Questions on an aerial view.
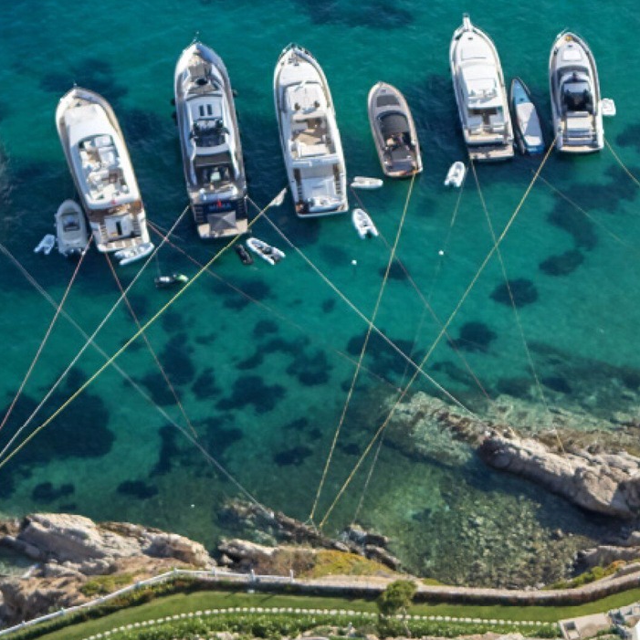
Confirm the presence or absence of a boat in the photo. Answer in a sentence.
Yes, a boat can be made out from above.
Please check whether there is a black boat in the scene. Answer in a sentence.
Yes, the frame does contain a black boat.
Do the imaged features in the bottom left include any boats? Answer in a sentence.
No, no boat appears in the bottom left.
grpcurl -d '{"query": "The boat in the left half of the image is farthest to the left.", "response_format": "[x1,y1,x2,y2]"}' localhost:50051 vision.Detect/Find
[35,234,55,254]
